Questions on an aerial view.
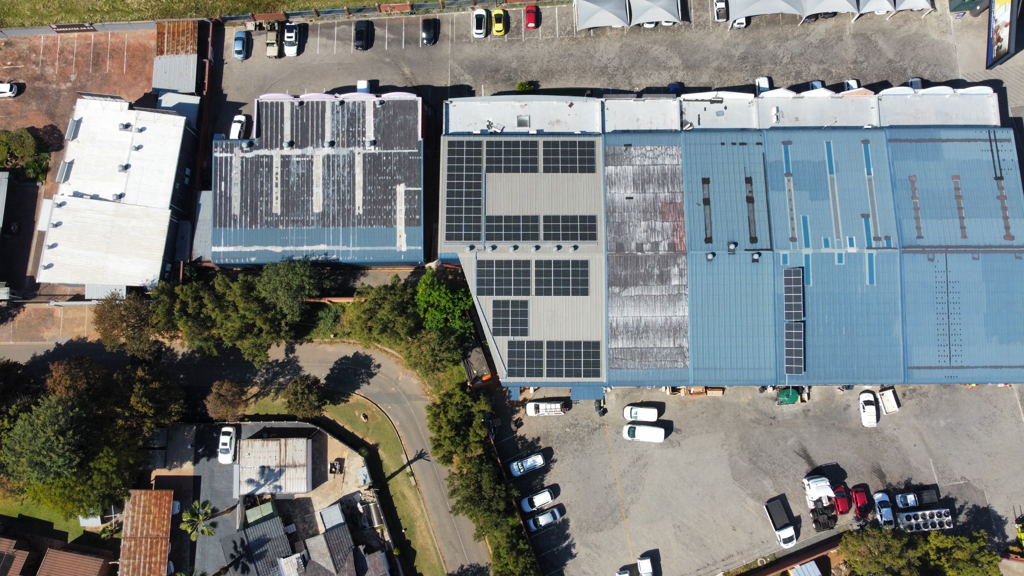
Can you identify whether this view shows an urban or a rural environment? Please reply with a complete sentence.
The area shown here is urban.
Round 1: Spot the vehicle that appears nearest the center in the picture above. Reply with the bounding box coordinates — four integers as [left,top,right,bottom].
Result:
[525,401,565,418]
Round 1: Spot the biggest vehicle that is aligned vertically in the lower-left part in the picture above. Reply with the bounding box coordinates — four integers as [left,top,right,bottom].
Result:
[217,426,238,463]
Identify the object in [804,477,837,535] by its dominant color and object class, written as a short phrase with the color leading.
white truck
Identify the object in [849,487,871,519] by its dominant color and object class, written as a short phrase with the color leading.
red car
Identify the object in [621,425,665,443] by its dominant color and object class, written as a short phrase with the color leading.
white vehicle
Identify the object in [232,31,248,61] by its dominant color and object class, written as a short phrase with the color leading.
blue car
